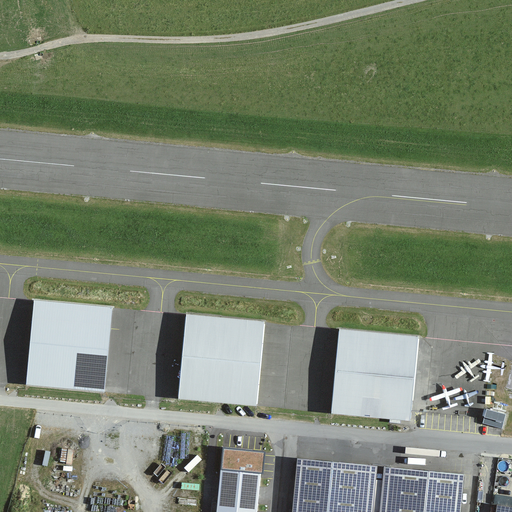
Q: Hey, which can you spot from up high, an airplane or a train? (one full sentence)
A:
This aerial view contains an airplane.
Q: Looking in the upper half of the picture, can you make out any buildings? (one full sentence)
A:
No, I see no building in the upper half of the picture.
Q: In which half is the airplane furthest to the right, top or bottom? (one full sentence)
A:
You can find the airplane furthest to the right in the bottom half.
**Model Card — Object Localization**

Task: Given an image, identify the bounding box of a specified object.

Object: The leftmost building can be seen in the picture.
[24,298,114,392]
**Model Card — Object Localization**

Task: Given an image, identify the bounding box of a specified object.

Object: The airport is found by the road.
[0,129,512,437]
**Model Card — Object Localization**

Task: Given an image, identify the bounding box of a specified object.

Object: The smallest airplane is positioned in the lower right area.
[454,390,479,406]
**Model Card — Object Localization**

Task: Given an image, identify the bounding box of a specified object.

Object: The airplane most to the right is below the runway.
[480,352,504,382]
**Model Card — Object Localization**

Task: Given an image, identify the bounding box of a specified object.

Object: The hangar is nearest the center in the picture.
[177,312,266,406]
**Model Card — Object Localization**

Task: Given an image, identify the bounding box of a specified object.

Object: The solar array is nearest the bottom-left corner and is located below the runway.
[72,353,106,388]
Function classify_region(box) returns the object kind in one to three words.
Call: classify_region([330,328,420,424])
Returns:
hangar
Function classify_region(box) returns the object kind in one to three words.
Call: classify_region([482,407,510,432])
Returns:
building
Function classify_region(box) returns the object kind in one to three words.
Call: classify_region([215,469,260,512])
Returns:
building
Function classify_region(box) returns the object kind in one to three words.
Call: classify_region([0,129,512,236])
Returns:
runway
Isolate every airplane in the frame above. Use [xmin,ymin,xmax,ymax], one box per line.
[454,390,479,406]
[430,385,464,409]
[480,352,504,382]
[454,358,481,381]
